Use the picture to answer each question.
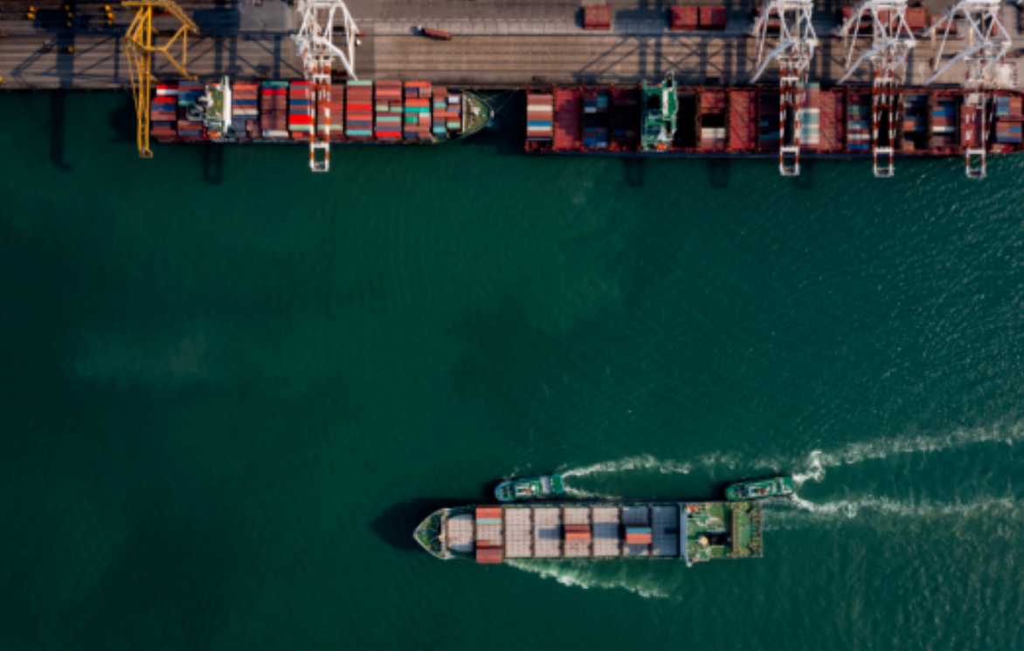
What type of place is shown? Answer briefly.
port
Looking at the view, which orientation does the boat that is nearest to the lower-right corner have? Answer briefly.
from side to side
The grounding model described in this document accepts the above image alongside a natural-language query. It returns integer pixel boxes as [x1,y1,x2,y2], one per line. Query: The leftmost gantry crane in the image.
[118,0,198,160]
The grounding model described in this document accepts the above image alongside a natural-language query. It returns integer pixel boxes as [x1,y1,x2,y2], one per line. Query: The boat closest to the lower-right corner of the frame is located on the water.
[725,474,795,502]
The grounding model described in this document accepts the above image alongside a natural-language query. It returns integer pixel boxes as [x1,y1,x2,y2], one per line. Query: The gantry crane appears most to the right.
[916,0,1020,178]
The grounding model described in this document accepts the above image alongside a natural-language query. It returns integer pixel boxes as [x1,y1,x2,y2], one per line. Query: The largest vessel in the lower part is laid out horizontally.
[413,500,762,568]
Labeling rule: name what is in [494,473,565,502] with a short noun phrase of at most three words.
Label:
boat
